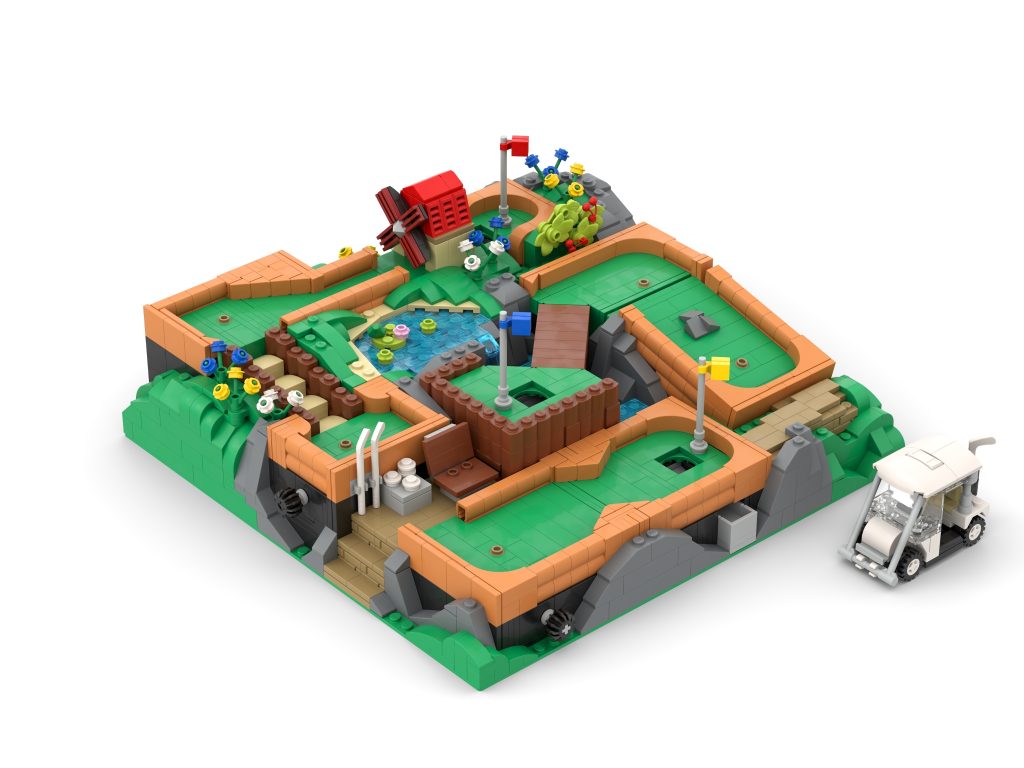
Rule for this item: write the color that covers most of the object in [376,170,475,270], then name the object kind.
red windmill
